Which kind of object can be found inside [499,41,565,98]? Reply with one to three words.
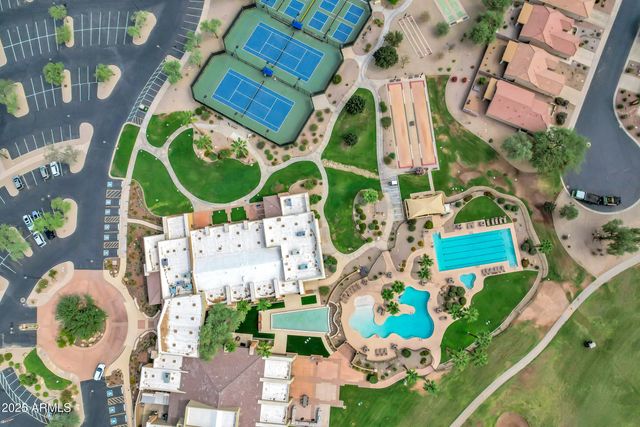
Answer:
house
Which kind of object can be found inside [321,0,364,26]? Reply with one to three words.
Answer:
sports court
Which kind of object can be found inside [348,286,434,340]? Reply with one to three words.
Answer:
swimming pool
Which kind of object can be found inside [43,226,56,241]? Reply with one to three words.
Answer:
vehicle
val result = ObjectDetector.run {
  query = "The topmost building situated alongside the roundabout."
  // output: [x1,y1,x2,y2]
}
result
[144,193,325,357]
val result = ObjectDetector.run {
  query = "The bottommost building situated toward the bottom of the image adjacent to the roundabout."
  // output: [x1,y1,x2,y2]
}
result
[135,348,299,427]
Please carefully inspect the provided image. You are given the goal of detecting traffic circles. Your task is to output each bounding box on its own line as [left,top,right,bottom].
[37,269,128,381]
